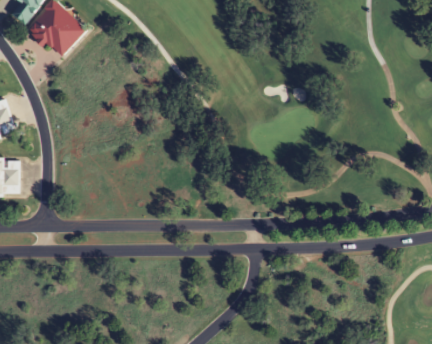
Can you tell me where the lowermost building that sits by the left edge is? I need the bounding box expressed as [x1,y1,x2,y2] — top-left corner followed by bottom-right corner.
[0,157,22,198]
